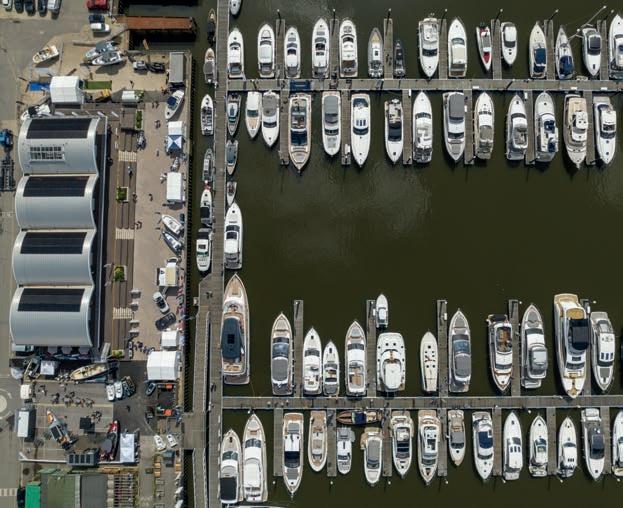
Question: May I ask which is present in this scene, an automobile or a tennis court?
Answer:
automobile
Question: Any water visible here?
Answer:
Yes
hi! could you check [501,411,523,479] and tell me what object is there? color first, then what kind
white boat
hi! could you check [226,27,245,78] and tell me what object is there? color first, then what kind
white boat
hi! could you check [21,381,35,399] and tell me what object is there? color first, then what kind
white vehicle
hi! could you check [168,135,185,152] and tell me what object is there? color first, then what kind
white gazebo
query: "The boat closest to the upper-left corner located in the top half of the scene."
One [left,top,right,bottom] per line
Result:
[32,45,61,64]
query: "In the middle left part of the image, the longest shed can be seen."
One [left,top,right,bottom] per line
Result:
[8,116,113,347]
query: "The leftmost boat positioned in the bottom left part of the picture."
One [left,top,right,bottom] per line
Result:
[23,357,41,382]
